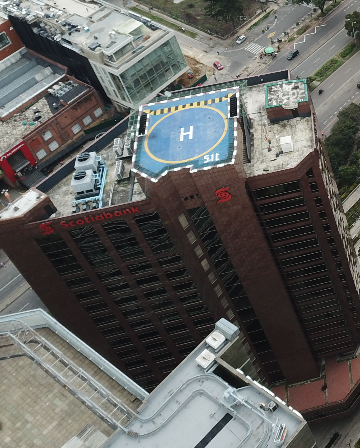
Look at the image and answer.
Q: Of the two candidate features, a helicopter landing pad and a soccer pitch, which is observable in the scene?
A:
helicopter landing pad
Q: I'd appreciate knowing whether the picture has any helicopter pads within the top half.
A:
Yes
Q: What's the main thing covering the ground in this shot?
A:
buildings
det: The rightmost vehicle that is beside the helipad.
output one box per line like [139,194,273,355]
[263,58,293,82]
